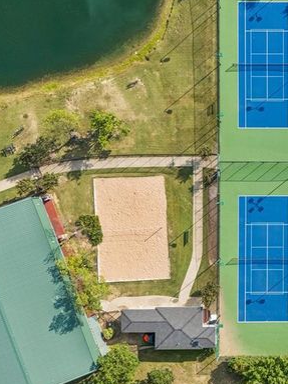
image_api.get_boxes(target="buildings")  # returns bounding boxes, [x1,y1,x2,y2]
[121,306,216,350]
[0,196,106,384]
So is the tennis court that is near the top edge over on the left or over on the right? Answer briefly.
right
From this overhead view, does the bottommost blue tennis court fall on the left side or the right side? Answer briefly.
right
